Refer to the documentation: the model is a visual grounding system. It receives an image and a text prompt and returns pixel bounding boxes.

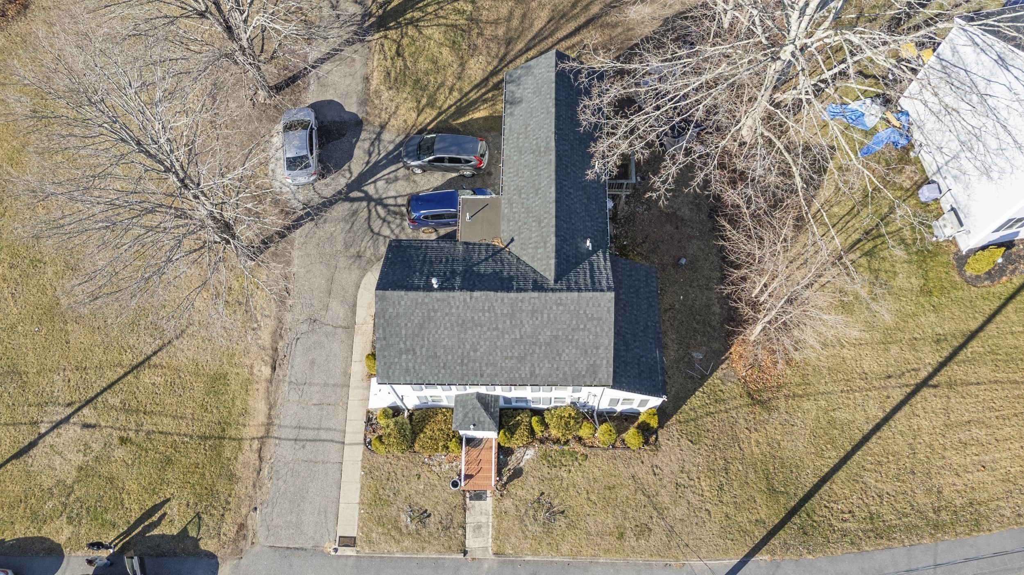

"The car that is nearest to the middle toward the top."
[405,182,492,232]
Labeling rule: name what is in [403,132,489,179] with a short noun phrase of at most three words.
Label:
car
